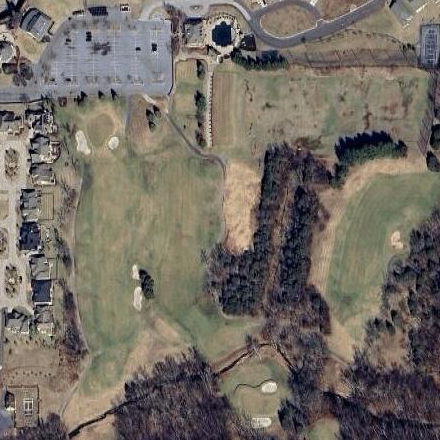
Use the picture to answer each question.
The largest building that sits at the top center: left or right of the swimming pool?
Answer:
to the left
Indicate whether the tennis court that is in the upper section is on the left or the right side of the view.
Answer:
right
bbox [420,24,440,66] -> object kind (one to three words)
tennis court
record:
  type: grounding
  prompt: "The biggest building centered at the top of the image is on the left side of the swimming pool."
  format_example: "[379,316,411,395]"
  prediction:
[184,22,204,48]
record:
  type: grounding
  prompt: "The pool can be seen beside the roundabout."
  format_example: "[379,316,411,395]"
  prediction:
[204,12,243,57]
